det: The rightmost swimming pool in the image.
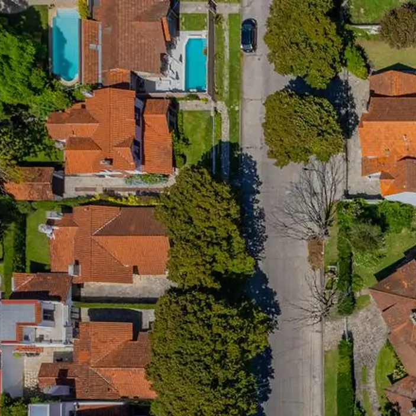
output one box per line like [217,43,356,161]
[183,37,206,89]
